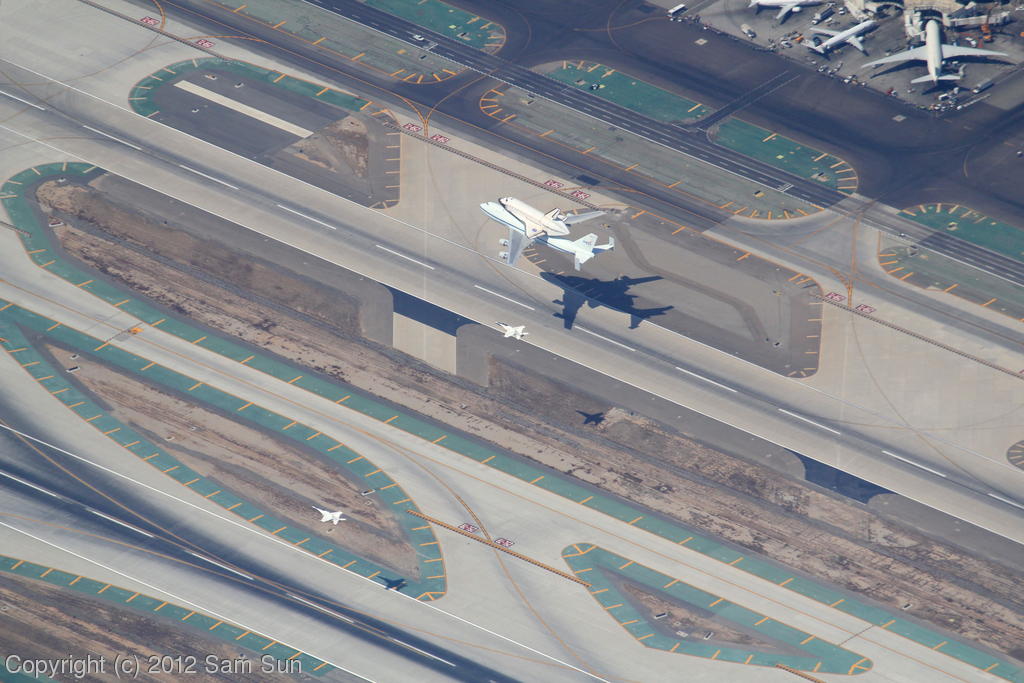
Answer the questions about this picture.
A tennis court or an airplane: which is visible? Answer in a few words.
airplane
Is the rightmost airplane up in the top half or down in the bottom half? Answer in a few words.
top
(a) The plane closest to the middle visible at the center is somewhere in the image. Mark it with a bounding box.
[496,322,530,337]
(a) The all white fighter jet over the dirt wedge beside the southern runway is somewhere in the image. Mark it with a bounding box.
[312,506,346,523]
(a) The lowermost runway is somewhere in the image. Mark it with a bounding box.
[0,395,610,683]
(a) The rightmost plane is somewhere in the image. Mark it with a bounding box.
[864,19,1006,83]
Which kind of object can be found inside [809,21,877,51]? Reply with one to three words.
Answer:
airplane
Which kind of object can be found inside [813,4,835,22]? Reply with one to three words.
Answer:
vehicle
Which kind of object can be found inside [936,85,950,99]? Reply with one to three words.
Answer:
work vehicle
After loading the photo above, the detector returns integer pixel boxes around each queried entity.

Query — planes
[312,506,346,523]
[496,322,530,337]
[750,0,824,16]
[479,199,617,271]
[864,19,1006,83]
[809,21,877,51]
